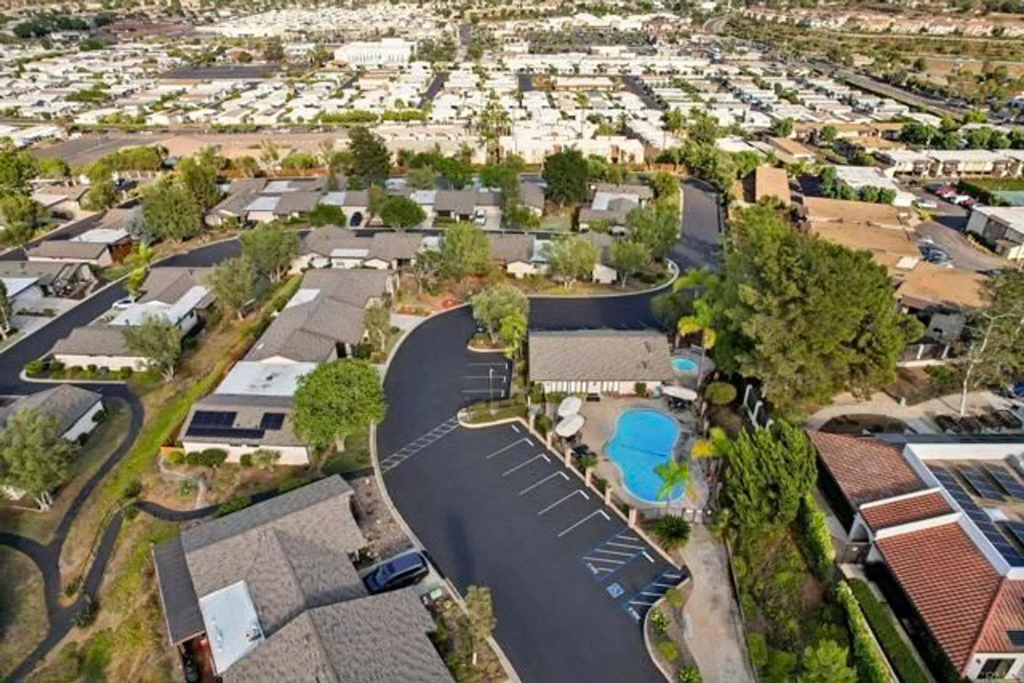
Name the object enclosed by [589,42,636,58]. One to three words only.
building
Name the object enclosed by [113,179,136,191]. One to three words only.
vehicle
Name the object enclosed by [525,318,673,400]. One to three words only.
building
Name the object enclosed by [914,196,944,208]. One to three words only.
vehicle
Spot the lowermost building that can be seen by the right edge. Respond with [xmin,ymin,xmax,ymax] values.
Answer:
[813,404,1024,678]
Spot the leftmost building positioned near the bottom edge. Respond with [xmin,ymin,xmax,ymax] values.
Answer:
[153,478,459,683]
